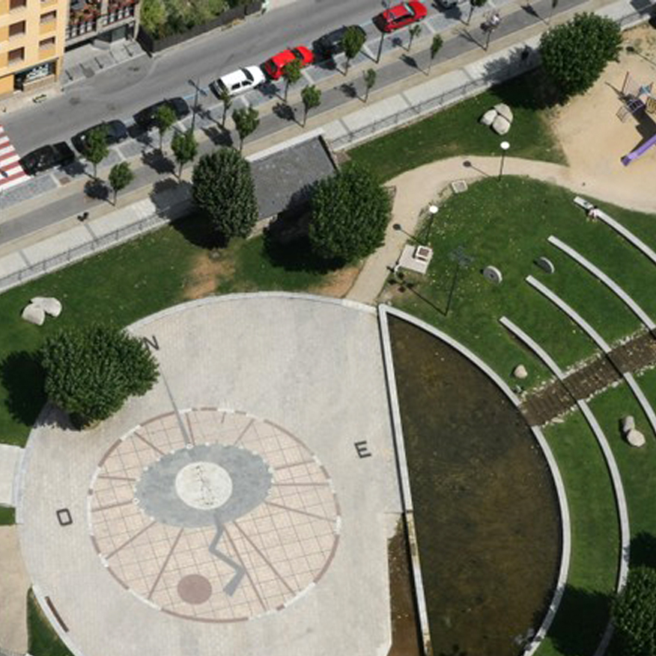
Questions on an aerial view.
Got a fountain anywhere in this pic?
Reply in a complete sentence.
Yes, the frame does contain a fountain.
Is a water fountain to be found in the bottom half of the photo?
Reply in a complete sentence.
No, I can find no water fountain in the bottom half of the photo.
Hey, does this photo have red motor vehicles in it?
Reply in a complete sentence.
Yes, there's a red motor vehicle down there.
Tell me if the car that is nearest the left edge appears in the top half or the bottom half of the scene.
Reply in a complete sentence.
Seen from above, the car that is nearest the left edge lies in the top half of the view.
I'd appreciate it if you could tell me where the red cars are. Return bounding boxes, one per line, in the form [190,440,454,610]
[261,43,316,78]
[373,0,431,32]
